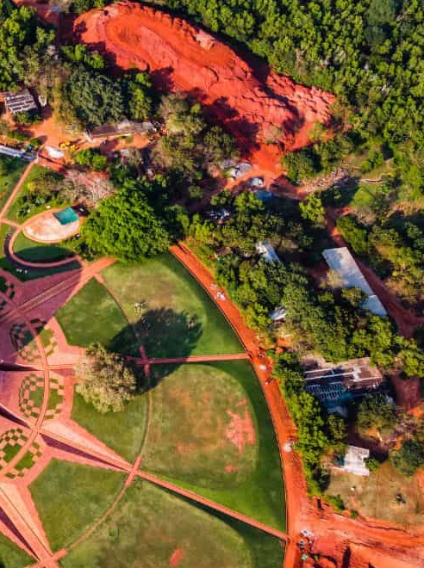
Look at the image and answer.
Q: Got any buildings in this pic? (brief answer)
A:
Yes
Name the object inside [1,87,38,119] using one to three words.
shed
